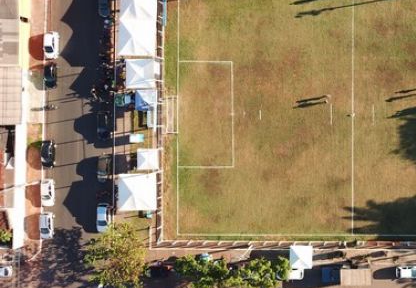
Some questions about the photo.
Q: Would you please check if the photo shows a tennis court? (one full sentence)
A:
No, the frame has no tennis court in it.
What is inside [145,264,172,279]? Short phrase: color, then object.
black car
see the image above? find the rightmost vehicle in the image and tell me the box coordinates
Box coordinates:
[396,266,416,279]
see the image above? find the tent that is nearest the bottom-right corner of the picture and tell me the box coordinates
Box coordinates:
[290,242,314,269]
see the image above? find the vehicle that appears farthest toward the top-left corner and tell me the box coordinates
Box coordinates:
[43,32,59,58]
